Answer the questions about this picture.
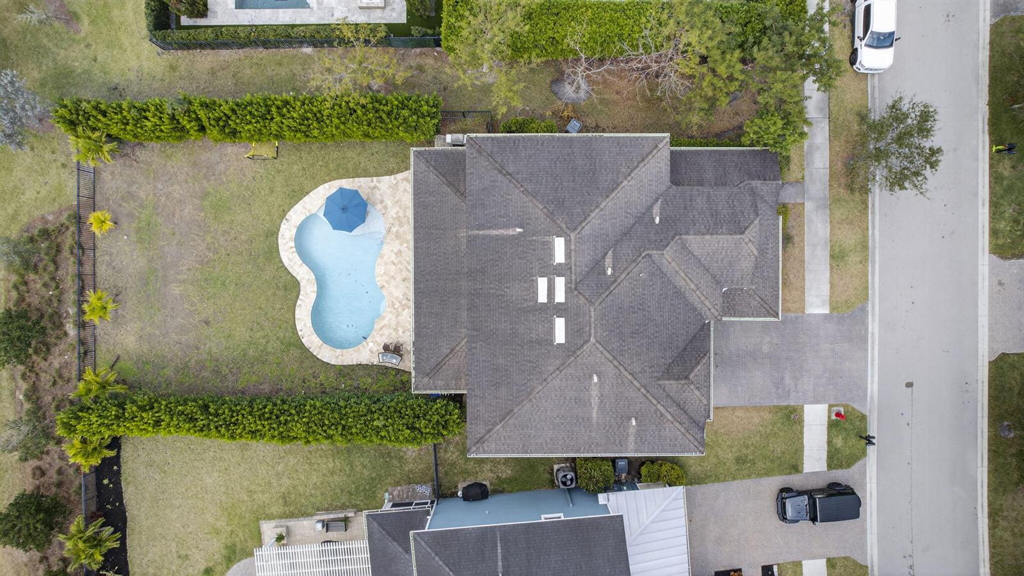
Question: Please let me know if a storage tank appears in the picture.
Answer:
No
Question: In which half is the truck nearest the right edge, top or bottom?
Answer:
top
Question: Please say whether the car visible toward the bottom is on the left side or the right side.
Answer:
right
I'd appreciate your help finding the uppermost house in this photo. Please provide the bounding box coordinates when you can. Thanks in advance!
[410,132,784,458]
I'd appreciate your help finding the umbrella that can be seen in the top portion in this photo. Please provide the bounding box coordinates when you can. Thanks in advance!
[324,187,368,233]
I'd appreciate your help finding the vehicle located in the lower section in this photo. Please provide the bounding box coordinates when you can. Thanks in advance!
[776,481,862,526]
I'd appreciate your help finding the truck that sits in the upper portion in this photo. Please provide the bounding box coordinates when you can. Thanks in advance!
[848,0,901,75]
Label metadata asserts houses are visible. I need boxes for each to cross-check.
[363,481,692,576]
[410,132,784,458]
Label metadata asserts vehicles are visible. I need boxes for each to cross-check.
[848,0,901,75]
[776,481,862,526]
